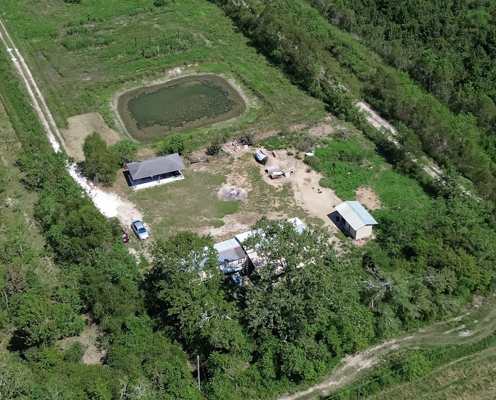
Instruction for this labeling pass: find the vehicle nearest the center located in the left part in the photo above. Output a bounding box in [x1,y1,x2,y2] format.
[132,218,149,237]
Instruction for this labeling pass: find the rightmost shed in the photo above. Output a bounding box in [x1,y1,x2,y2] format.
[337,201,377,239]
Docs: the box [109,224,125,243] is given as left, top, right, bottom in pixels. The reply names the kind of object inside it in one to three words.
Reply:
car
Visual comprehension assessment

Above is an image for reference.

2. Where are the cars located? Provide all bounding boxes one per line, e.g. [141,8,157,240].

[109,224,125,243]
[132,218,149,237]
